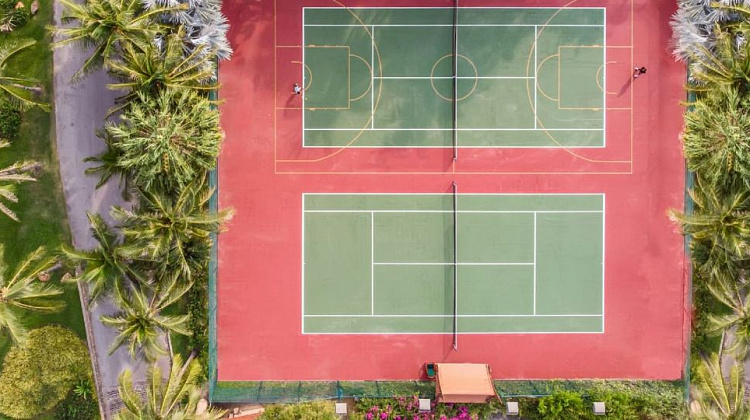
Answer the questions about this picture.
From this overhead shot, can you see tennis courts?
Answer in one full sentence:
Yes, the picture does show a tennis court.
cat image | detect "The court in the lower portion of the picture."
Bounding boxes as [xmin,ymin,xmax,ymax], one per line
[302,194,605,334]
